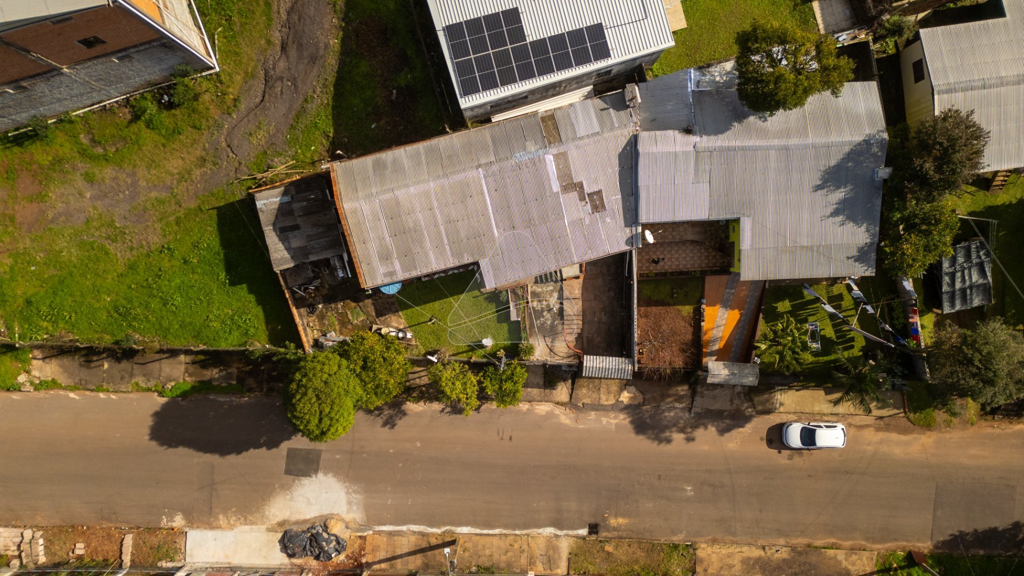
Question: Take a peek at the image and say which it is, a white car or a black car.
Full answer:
Of the two, only a white car appears.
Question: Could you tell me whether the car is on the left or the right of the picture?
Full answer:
You can find the car on the right side of the picture.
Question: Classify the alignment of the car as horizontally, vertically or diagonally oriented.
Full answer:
From this overhead view, the car appears to run horizontally.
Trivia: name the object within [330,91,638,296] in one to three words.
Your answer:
house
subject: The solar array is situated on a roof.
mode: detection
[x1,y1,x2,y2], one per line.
[444,8,613,97]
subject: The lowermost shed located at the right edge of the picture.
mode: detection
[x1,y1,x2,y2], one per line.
[925,239,993,314]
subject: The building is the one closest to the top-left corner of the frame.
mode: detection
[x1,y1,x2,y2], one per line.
[0,0,219,130]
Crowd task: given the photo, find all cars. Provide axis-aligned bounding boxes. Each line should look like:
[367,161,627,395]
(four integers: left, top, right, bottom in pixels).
[780,418,847,449]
